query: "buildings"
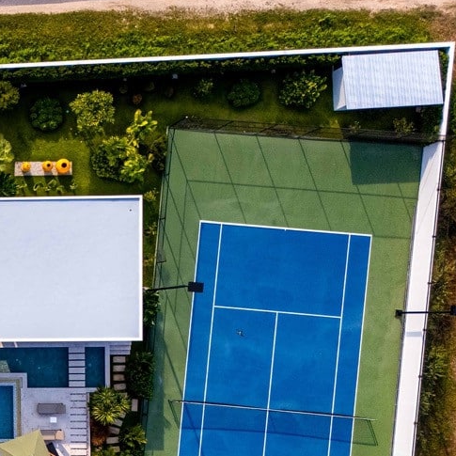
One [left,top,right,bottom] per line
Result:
[0,195,142,342]
[326,51,444,115]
